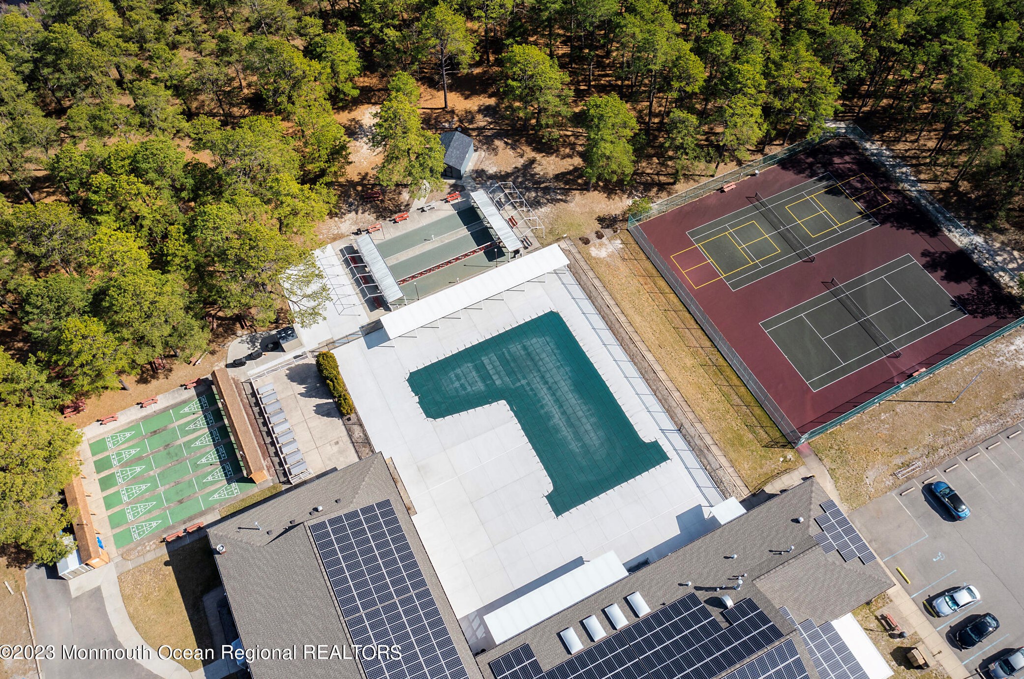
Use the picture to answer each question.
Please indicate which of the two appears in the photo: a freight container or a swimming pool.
swimming pool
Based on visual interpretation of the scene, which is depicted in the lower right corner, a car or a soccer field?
car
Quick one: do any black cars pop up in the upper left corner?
No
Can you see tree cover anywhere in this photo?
Yes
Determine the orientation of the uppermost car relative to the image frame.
diagonally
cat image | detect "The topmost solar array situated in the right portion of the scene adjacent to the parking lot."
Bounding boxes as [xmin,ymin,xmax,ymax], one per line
[814,499,878,564]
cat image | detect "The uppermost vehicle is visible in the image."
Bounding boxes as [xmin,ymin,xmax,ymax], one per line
[932,478,974,519]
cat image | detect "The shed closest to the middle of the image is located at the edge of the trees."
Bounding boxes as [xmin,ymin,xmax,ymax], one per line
[438,134,474,179]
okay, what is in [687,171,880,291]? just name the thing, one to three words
tennis court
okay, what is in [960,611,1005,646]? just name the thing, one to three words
car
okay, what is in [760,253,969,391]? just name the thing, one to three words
tennis court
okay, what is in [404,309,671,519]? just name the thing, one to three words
swimming pool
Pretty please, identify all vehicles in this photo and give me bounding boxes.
[990,643,1024,679]
[960,611,1005,646]
[932,478,974,519]
[934,580,980,615]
